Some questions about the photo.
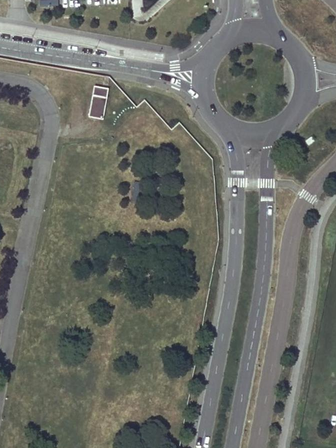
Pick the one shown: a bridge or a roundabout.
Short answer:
roundabout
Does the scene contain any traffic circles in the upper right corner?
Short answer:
Yes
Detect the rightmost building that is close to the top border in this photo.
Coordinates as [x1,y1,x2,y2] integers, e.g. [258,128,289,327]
[132,0,167,21]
